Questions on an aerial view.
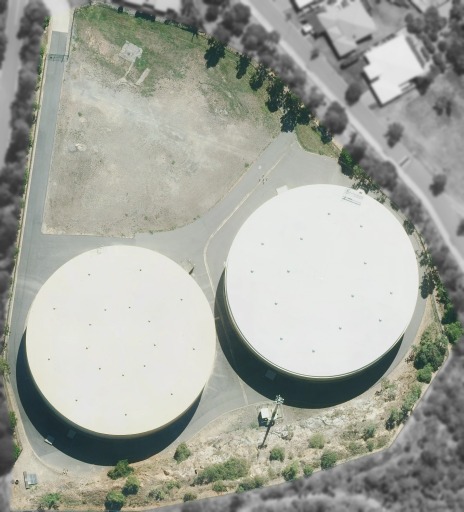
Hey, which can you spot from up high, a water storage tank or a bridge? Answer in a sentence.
There is a water storage tank in the scene.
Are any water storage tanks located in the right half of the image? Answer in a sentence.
Yes, a water storage tank appears in the right half of the image.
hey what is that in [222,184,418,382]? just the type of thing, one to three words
water tank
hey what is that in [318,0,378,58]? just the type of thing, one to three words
house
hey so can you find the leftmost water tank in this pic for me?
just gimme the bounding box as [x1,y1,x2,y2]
[26,247,216,440]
